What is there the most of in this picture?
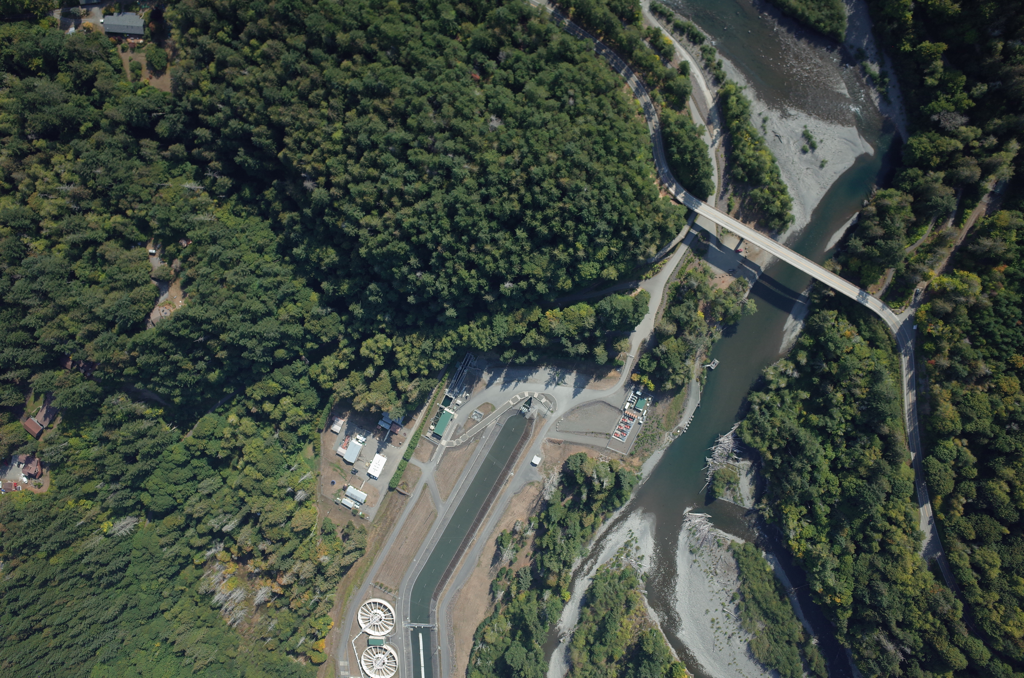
trees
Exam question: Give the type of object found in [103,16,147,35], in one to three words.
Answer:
house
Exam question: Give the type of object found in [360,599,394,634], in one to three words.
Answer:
storage tank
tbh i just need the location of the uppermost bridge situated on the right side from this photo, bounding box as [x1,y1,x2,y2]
[690,199,874,307]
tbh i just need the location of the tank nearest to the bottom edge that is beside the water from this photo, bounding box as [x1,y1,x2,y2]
[363,646,397,678]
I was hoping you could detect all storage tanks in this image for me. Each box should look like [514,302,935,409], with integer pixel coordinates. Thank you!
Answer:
[360,599,394,634]
[363,646,397,678]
